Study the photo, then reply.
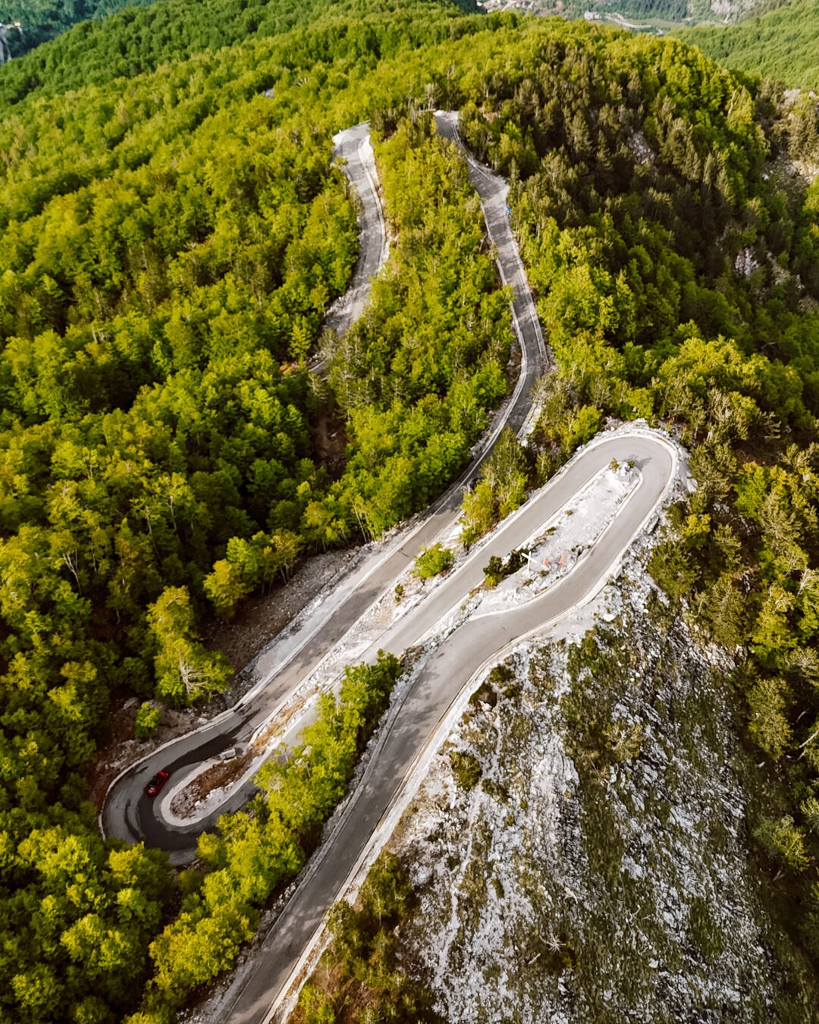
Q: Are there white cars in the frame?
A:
No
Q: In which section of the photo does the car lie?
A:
bottom left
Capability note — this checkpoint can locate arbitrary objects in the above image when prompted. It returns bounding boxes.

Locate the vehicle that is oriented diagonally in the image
[144,771,171,795]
